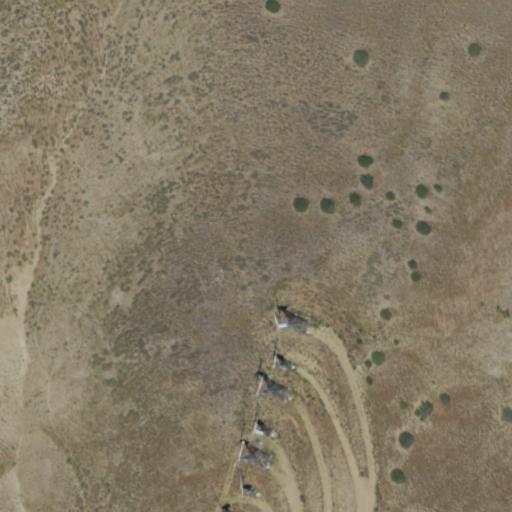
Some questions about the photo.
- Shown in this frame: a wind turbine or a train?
wind turbine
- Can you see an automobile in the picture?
No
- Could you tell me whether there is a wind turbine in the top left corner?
No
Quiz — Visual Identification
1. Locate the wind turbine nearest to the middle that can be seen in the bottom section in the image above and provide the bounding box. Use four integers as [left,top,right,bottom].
[274,314,310,342]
